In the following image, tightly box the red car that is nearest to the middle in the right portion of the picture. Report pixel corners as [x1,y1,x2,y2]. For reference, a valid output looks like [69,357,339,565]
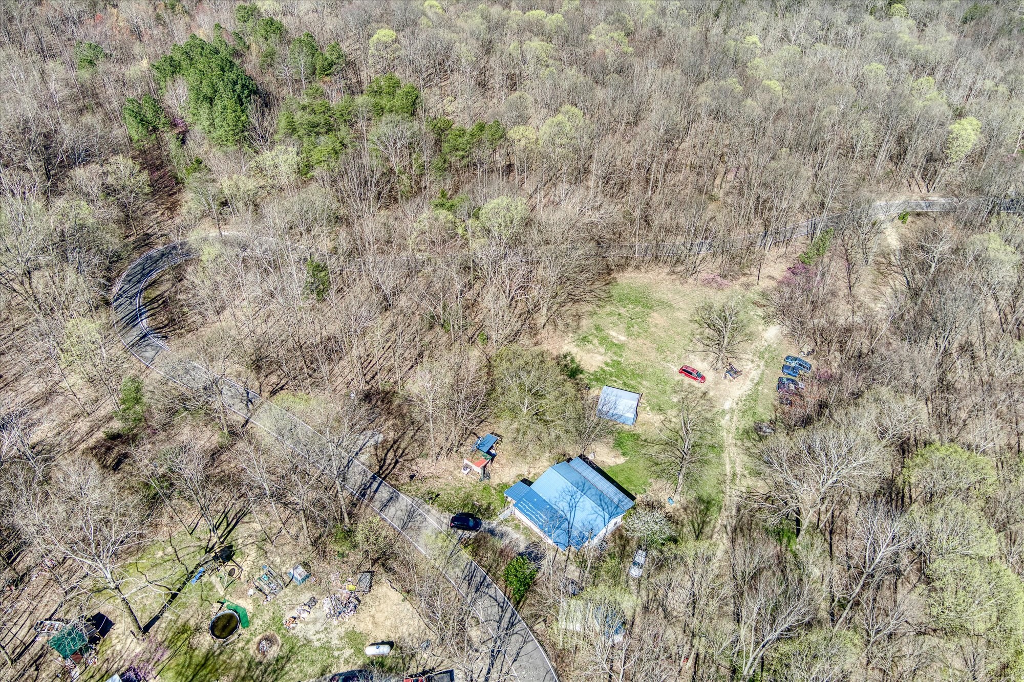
[678,363,707,384]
